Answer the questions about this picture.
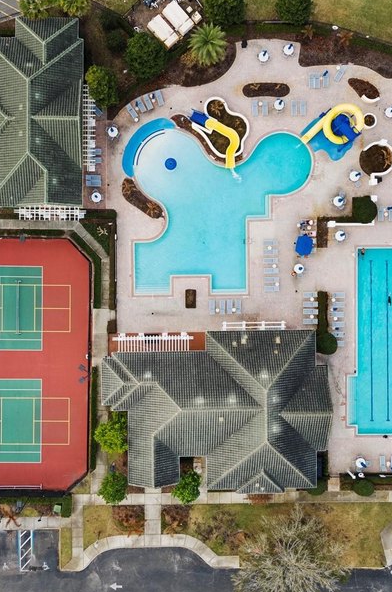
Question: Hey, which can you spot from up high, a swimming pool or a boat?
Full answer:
I can see a swimming pool in this picture.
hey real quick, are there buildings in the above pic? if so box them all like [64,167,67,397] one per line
[102,330,335,493]
[0,17,84,207]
